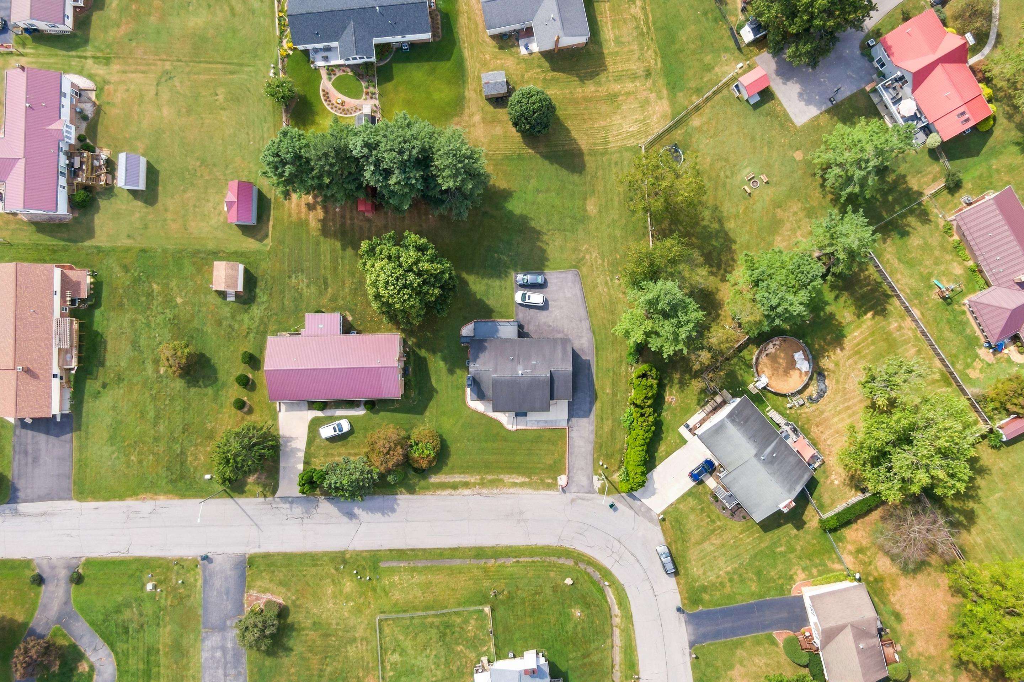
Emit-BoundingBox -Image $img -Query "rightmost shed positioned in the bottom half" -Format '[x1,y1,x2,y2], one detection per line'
[991,412,1024,442]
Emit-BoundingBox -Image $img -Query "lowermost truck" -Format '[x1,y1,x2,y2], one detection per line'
[656,543,677,576]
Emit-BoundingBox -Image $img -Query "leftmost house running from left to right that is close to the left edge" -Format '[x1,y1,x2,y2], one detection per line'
[11,0,87,31]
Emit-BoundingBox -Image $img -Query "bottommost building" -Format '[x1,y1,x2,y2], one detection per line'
[474,650,551,682]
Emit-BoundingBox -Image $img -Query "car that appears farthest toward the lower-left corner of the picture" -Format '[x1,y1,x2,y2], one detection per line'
[318,419,351,438]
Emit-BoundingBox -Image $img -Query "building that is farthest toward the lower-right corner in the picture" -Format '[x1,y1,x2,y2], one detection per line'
[799,577,888,682]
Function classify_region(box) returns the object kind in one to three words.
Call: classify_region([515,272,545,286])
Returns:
car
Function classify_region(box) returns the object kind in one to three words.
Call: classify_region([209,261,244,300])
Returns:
shed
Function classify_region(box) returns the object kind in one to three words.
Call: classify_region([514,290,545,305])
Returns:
car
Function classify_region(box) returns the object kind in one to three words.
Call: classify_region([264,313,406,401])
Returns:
house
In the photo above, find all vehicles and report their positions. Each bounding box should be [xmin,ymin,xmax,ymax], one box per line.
[514,290,545,305]
[515,272,545,286]
[0,17,7,30]
[656,543,677,576]
[688,459,716,484]
[318,419,351,438]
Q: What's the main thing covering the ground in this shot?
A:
grass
